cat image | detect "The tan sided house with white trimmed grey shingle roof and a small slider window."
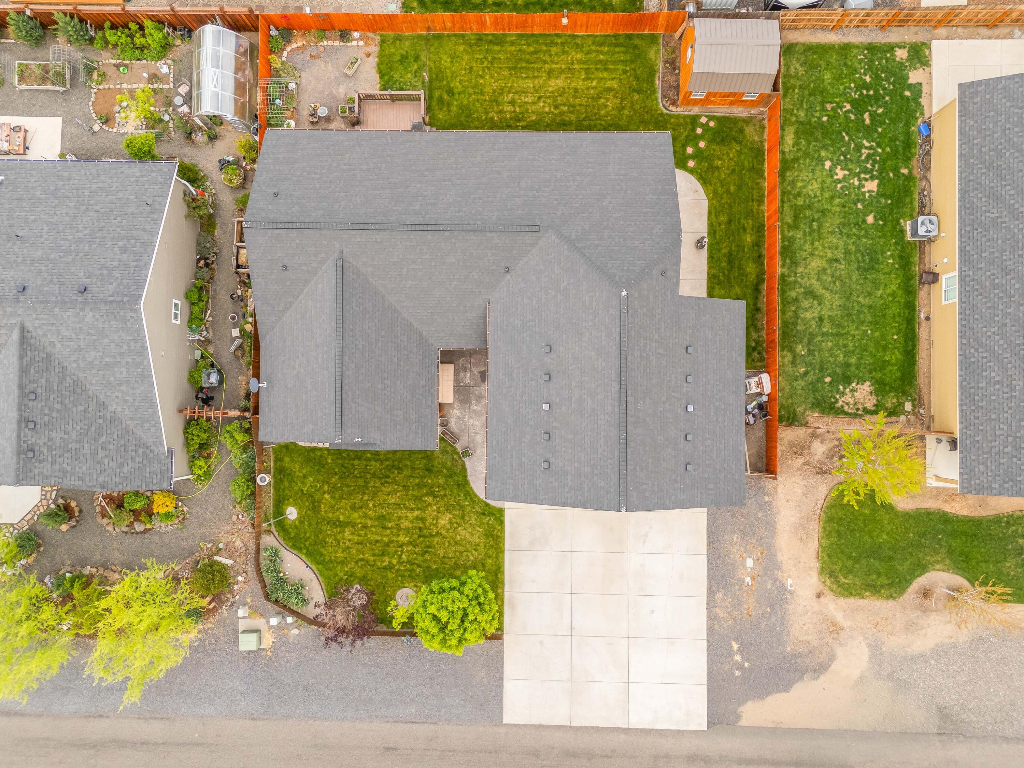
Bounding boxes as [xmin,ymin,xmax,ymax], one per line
[0,155,198,491]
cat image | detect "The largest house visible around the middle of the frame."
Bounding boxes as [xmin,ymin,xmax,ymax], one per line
[240,128,746,513]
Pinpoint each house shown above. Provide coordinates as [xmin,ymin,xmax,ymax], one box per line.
[927,74,1024,497]
[0,155,198,491]
[240,128,746,513]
